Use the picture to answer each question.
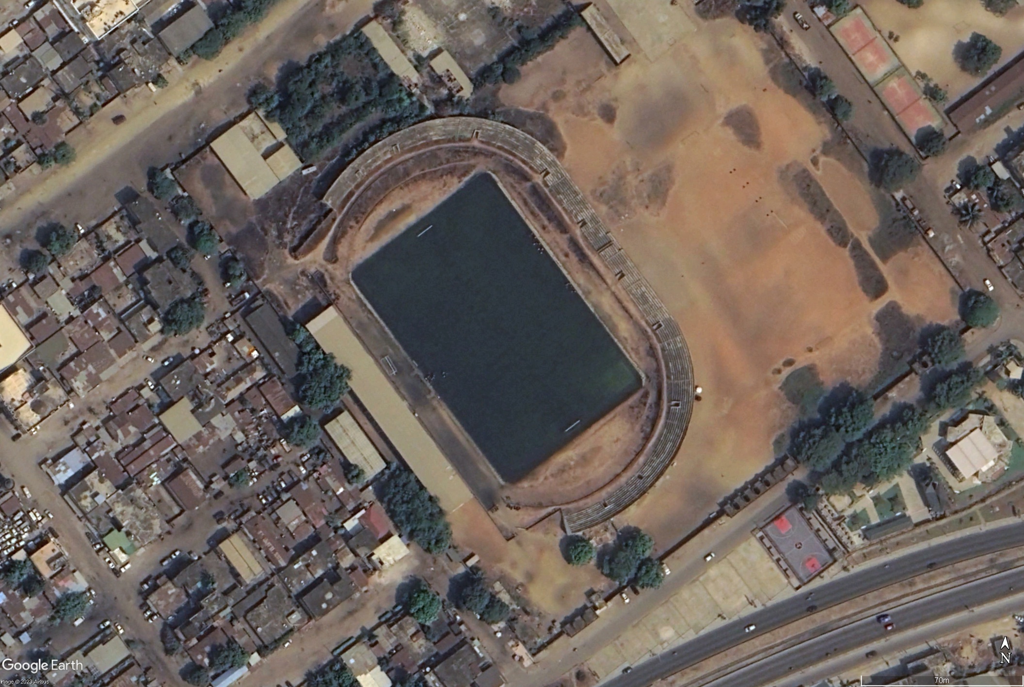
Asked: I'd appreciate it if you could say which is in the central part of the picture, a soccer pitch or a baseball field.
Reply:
soccer pitch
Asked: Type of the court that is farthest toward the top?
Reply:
tennis court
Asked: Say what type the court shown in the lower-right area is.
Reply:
basketball court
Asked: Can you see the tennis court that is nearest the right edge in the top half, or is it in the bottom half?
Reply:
top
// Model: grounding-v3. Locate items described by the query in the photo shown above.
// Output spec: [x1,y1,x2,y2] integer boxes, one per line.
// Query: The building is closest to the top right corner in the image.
[950,58,1024,130]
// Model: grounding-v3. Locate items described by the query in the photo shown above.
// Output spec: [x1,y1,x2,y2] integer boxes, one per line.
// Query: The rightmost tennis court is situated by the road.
[875,67,946,143]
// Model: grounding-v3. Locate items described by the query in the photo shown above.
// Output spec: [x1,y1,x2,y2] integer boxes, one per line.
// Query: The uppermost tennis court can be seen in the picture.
[830,8,900,84]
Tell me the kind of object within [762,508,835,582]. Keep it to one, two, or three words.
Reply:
basketball court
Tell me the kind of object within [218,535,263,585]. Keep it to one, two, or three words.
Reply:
house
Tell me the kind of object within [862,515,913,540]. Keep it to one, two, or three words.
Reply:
building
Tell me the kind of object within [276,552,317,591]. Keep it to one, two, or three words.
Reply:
house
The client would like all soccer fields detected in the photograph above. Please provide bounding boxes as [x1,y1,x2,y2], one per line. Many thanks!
[349,169,646,487]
